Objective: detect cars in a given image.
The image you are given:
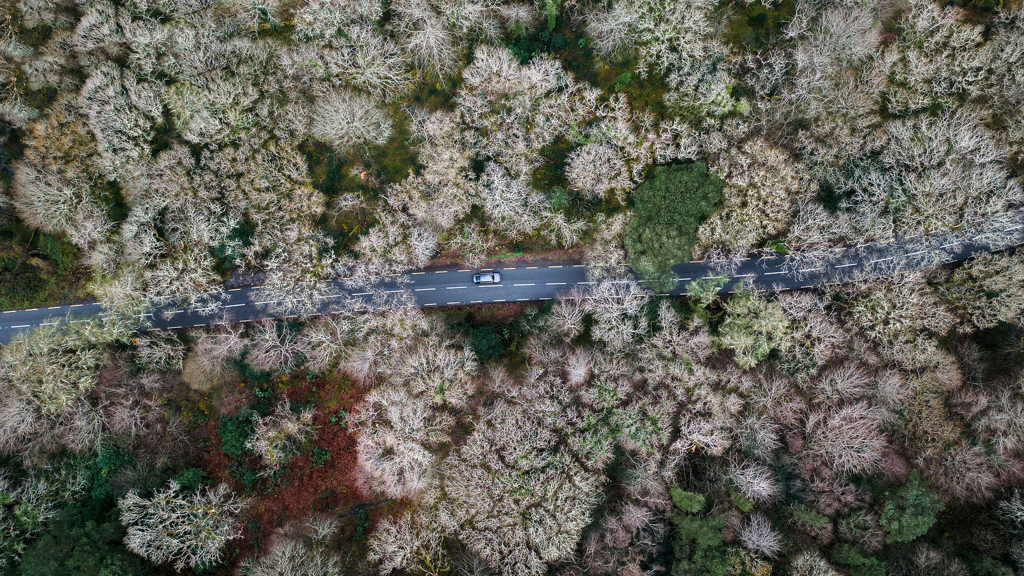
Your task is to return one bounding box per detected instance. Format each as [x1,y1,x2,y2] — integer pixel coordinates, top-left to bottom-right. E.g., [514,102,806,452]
[473,272,501,284]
